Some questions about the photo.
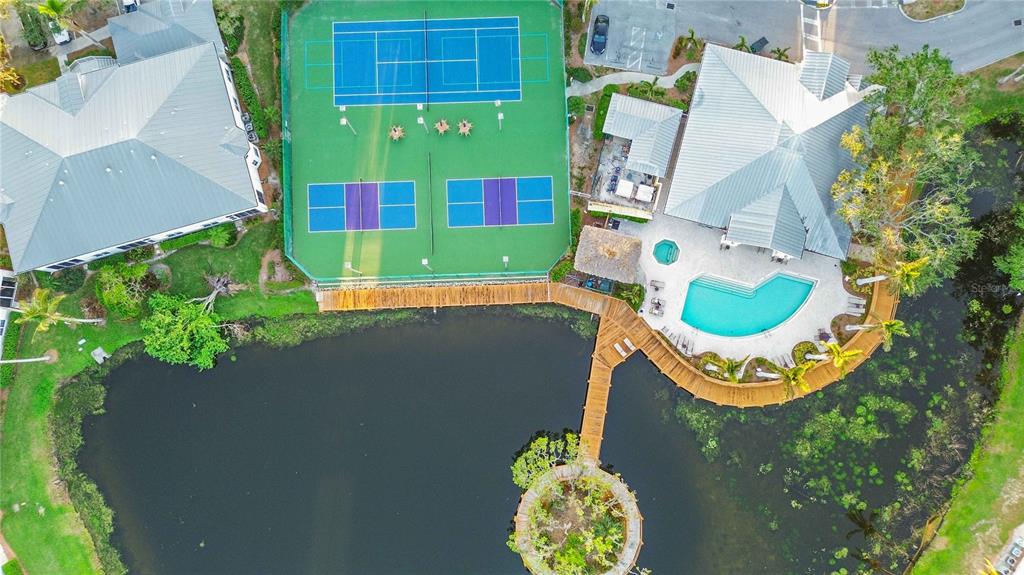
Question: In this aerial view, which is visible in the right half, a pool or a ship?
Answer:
pool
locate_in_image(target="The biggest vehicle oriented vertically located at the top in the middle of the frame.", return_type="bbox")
[592,15,609,53]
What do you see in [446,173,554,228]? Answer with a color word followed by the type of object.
blue sports court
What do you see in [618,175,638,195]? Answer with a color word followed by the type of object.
white umbrella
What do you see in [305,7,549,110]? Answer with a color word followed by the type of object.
blue tennis court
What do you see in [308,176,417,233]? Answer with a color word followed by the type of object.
blue sports court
